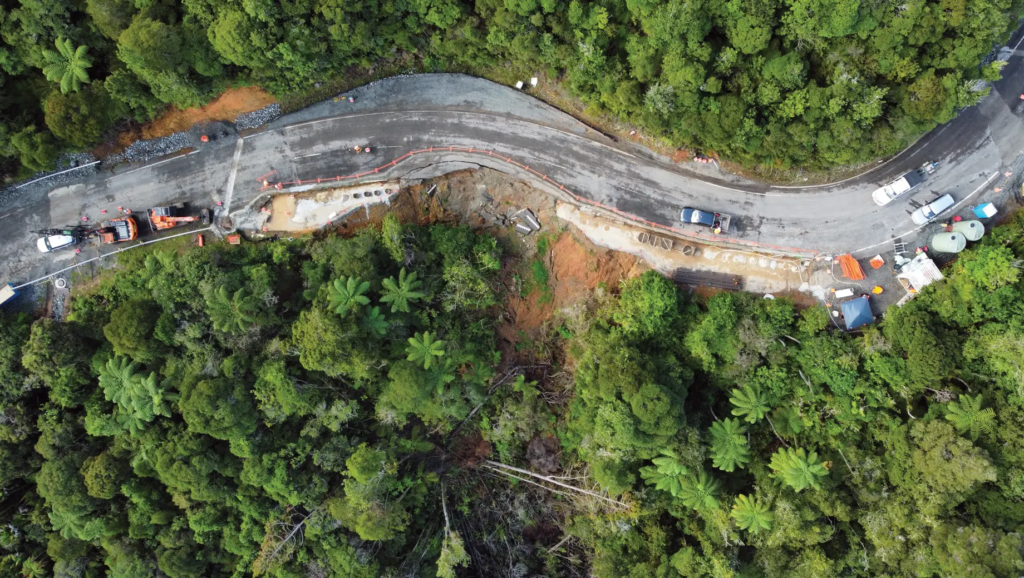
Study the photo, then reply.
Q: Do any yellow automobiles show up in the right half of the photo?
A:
No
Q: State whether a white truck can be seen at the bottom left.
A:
No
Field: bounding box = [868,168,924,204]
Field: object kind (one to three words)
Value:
truck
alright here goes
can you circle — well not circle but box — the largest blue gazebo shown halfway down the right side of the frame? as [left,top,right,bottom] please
[840,296,874,329]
